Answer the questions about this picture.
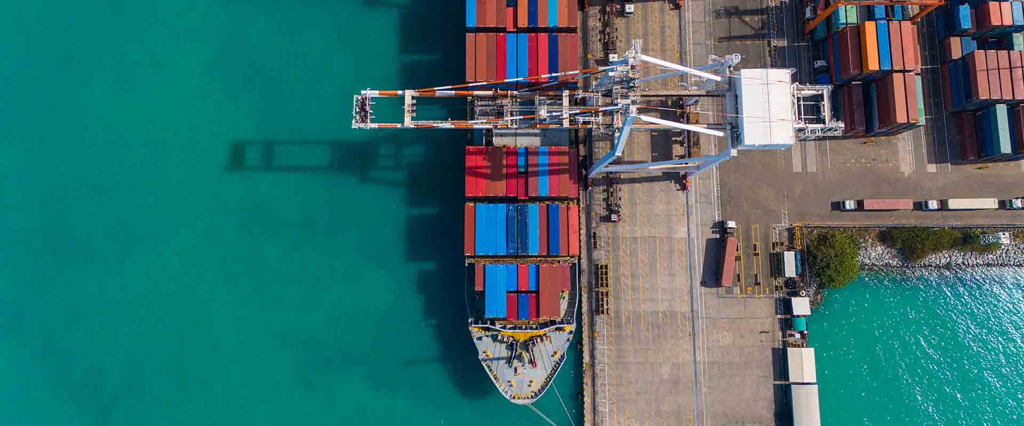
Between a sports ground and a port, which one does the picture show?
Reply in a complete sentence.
The area seen from above is a port.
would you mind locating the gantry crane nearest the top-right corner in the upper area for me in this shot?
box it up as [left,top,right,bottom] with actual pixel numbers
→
[801,0,945,39]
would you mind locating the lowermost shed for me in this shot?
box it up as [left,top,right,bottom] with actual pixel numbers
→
[786,384,821,426]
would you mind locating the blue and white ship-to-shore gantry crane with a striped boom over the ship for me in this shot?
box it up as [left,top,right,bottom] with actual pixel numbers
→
[349,35,847,191]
